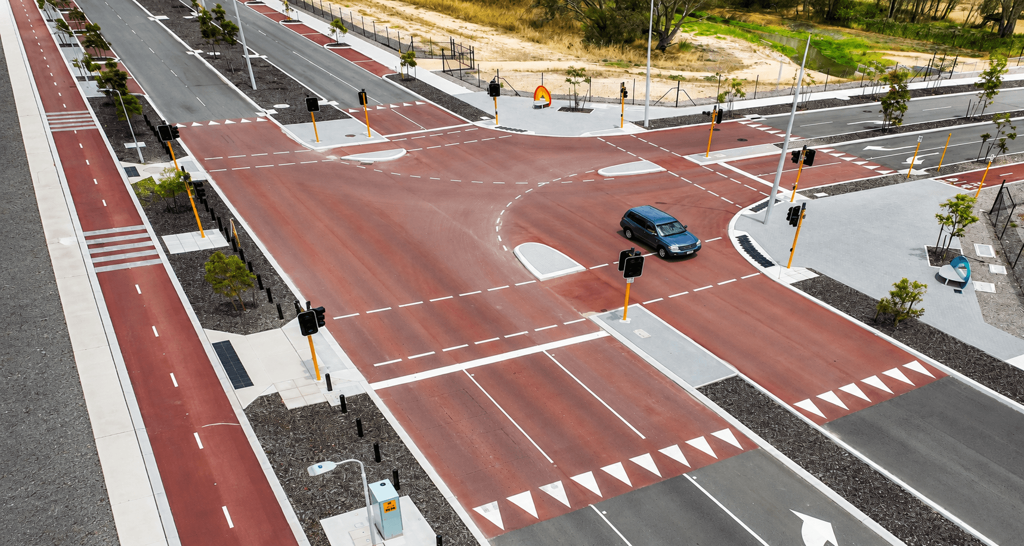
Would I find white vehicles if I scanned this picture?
No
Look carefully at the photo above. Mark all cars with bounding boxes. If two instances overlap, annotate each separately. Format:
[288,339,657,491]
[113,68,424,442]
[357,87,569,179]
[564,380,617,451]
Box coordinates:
[621,202,702,259]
